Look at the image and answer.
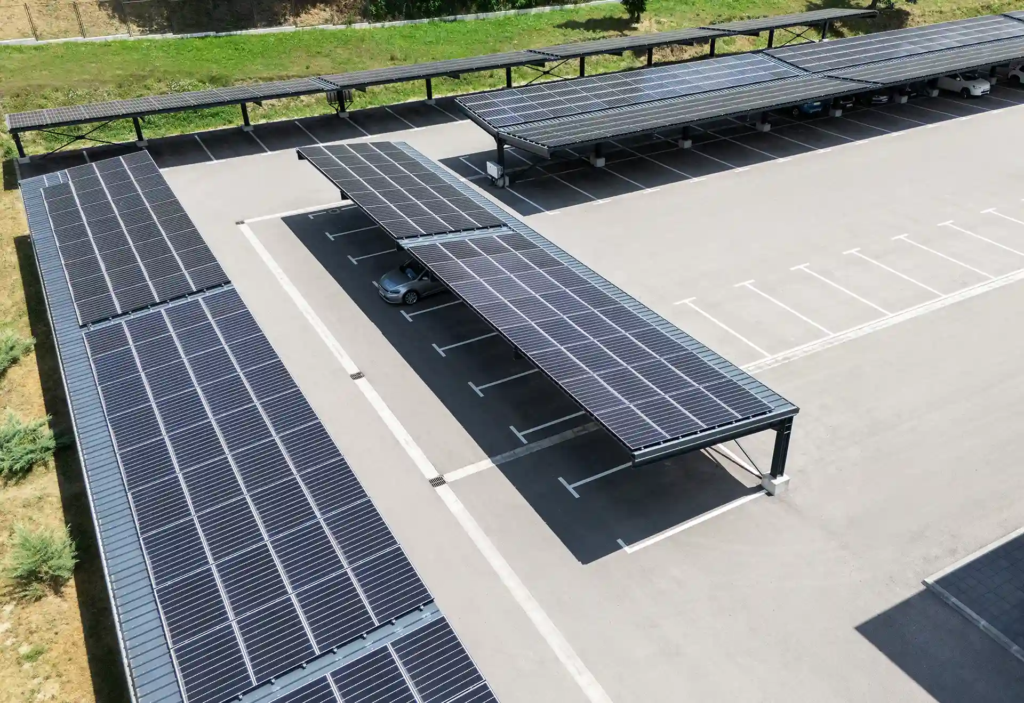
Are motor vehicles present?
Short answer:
Yes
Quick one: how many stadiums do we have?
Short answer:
0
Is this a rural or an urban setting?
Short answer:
urban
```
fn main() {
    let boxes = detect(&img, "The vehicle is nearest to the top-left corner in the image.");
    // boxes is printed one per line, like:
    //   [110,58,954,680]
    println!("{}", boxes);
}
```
[375,257,448,307]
